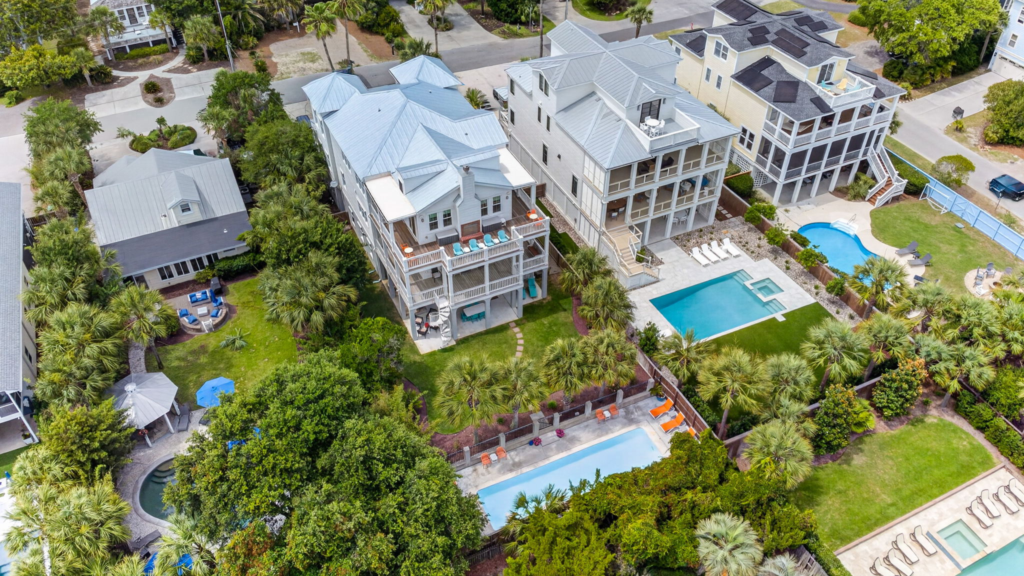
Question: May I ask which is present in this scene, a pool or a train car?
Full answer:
The image shows a pool.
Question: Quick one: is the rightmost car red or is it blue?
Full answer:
The rightmost car is blue.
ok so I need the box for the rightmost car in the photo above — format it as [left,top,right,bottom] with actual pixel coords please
[995,173,1024,206]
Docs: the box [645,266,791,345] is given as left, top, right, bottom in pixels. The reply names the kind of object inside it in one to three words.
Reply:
swimming pool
